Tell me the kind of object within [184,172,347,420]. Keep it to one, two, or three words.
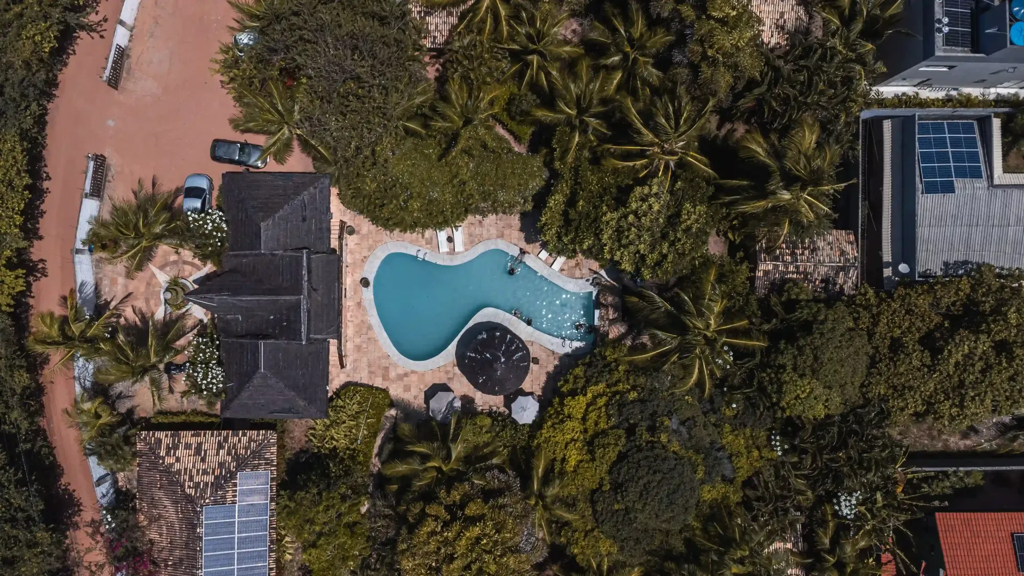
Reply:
house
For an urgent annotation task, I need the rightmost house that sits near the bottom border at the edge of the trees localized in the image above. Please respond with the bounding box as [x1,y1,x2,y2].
[918,507,1024,576]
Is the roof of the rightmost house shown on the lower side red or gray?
red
